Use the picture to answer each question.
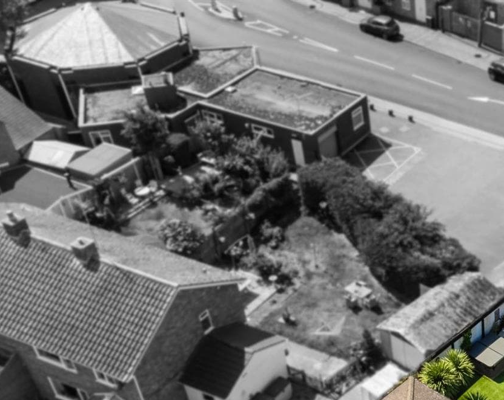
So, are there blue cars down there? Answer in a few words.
No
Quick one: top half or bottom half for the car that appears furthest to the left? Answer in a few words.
top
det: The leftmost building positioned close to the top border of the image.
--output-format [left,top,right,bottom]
[7,0,188,136]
